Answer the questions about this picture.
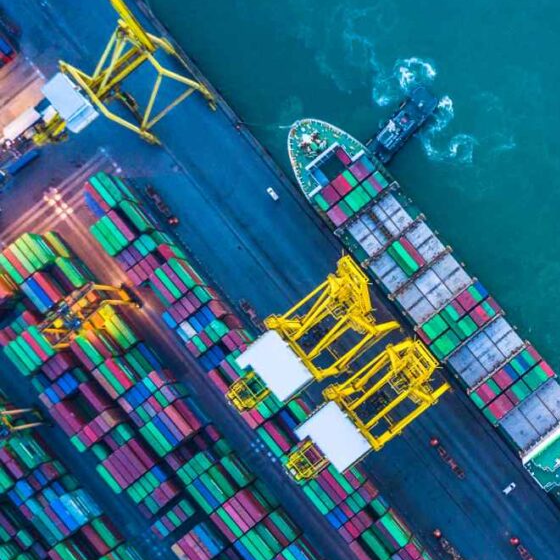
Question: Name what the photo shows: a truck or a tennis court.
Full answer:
There is a truck in the scene.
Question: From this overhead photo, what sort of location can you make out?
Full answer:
It's a port.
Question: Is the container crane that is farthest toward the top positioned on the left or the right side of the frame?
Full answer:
The container crane that is farthest toward the top is on the left side of the image.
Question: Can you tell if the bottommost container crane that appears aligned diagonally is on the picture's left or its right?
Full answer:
The bottommost container crane that appears aligned diagonally is on the right side of the image.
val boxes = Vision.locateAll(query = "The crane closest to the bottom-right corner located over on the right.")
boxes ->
[280,333,456,487]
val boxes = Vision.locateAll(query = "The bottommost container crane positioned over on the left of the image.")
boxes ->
[0,404,48,434]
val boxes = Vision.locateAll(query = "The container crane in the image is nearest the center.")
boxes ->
[220,246,405,414]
